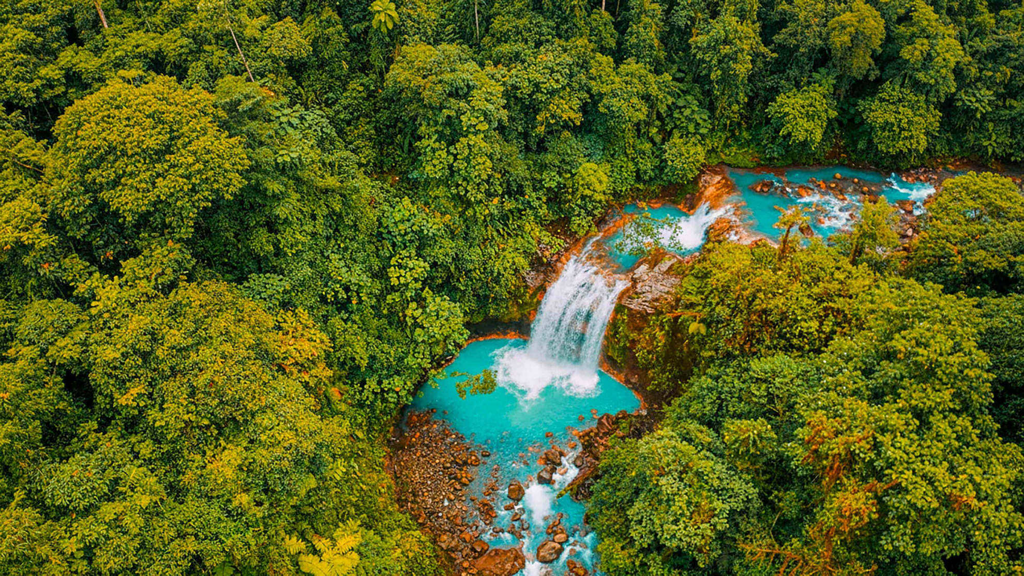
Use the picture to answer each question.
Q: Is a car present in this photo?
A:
No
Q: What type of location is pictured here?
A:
forest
